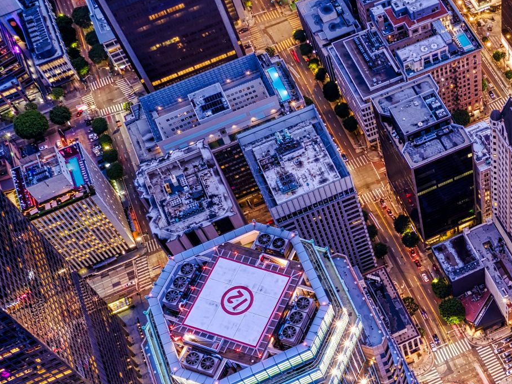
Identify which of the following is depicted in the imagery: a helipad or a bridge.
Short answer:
helipad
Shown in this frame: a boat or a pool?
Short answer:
pool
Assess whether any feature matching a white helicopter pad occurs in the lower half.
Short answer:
No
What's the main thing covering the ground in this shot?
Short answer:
buildings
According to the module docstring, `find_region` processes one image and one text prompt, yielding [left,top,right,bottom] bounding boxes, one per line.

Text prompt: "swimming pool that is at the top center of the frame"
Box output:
[267,66,291,102]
